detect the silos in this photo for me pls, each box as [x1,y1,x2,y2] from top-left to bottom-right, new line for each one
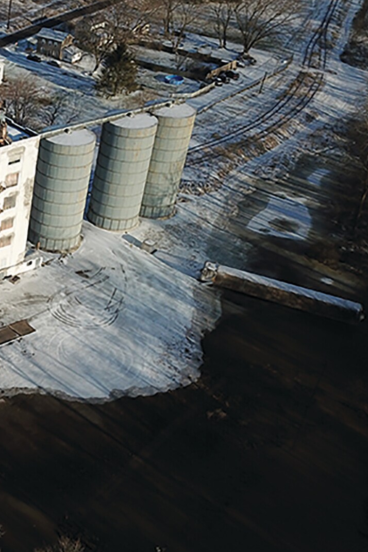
[29,120,97,254]
[86,103,158,231]
[140,98,195,218]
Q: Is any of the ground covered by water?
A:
Yes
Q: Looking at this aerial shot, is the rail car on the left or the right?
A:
right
